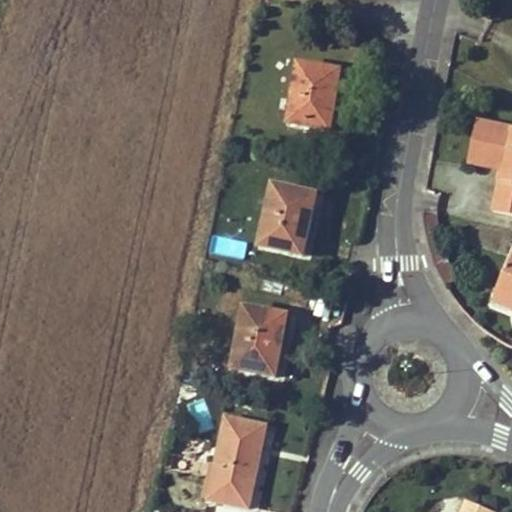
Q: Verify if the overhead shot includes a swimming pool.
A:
Yes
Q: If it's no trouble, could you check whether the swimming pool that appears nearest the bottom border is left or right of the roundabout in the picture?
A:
left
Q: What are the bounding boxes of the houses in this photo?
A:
[466,117,512,216]
[434,494,496,512]
[227,301,288,382]
[488,246,512,331]
[254,179,318,263]
[204,412,268,512]
[284,58,341,134]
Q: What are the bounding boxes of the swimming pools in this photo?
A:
[208,236,248,262]
[186,397,215,434]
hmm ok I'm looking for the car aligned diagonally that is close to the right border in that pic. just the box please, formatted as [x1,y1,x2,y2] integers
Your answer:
[474,360,492,382]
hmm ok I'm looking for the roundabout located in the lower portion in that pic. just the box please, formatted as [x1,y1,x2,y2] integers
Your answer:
[354,322,466,433]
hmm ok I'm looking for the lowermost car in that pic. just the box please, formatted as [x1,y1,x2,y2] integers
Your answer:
[334,441,350,464]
